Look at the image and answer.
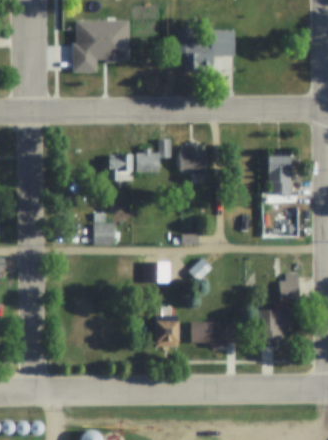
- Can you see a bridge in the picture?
No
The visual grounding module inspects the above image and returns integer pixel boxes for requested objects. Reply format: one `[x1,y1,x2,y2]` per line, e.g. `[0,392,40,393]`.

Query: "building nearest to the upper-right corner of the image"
[182,30,236,70]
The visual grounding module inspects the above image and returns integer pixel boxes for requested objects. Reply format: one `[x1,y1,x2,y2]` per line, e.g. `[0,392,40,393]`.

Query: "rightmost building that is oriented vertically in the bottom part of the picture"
[279,272,300,332]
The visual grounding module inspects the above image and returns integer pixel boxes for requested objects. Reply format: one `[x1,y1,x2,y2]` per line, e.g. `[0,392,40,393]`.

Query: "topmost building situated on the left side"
[72,17,130,74]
